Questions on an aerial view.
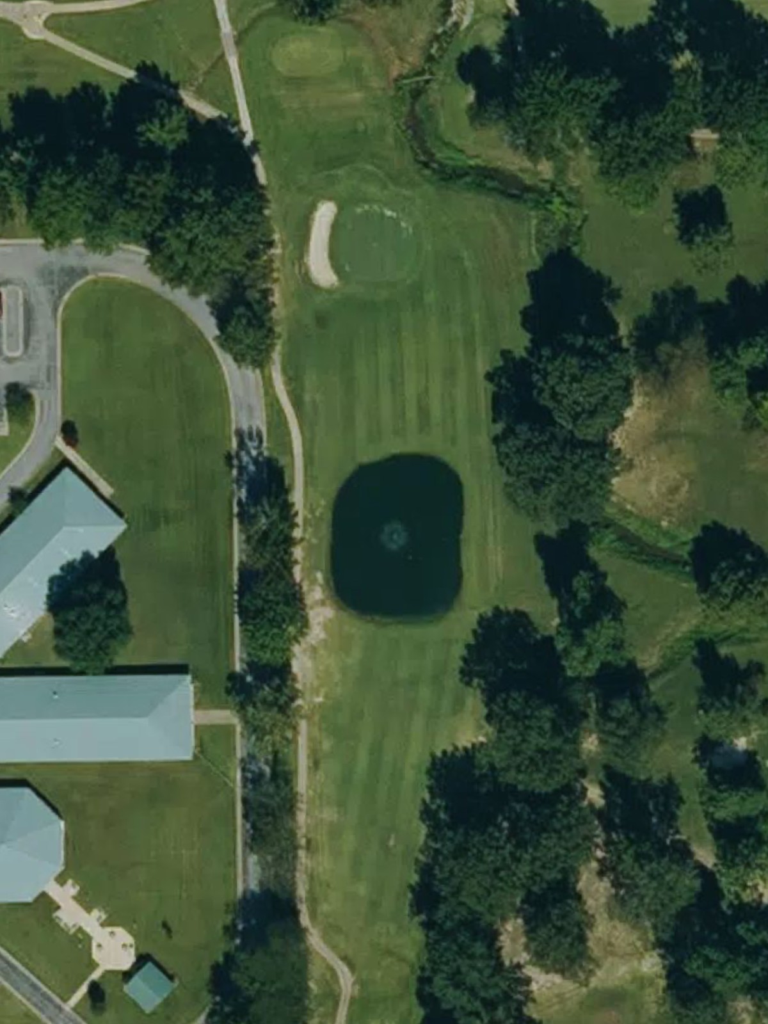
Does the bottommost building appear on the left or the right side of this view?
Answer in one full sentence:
You can find the bottommost building on the left side of the picture.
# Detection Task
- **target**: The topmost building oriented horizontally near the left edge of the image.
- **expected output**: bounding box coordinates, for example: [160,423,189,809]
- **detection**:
[0,674,193,760]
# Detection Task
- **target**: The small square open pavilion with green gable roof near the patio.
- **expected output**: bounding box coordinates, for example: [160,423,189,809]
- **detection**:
[124,961,176,1013]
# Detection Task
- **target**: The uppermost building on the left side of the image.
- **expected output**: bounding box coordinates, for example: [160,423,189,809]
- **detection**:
[0,464,127,650]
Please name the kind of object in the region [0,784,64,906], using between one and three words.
building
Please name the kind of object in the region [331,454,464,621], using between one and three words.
pond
